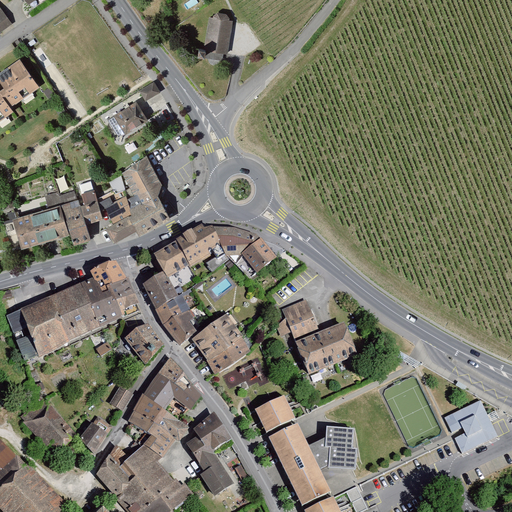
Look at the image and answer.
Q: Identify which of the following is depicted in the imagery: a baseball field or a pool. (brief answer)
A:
pool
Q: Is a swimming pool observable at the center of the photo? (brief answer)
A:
Yes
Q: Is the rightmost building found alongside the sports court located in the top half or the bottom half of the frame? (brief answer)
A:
bottom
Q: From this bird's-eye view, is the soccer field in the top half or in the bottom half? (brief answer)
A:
top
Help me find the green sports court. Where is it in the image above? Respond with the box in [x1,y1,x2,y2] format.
[384,376,443,449]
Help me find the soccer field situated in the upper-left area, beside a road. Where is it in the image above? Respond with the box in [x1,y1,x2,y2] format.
[33,0,142,112]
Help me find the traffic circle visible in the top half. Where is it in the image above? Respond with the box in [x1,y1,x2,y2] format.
[200,132,285,226]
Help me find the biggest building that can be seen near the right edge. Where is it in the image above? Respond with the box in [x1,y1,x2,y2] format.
[443,400,498,454]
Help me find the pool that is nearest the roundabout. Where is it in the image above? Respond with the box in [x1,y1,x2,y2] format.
[206,276,236,300]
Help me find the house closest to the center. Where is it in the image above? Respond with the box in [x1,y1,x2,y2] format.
[242,237,276,273]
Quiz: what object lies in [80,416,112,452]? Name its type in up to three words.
house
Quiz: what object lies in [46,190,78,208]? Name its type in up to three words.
barn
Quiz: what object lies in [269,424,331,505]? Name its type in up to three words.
building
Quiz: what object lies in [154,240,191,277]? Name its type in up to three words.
house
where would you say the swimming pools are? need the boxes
[206,276,236,300]
[185,0,199,10]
